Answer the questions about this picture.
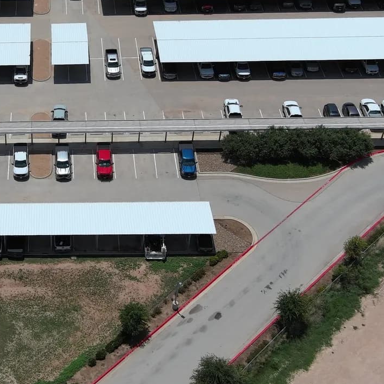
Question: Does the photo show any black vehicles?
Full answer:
Yes, there is a black vehicle in the image.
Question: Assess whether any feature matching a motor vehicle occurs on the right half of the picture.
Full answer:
Yes, you'll find a motor vehicle on the right half of the picture.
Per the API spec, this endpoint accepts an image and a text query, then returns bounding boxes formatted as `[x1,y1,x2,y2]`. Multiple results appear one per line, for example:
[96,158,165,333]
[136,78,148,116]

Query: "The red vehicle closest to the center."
[95,147,113,180]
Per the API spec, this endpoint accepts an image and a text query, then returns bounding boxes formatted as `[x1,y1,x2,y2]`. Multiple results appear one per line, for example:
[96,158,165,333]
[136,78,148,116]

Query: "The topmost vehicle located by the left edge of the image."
[13,65,28,83]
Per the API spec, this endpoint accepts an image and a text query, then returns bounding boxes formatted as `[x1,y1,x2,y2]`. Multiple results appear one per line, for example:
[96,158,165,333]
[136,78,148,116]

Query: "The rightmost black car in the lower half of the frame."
[195,233,214,250]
